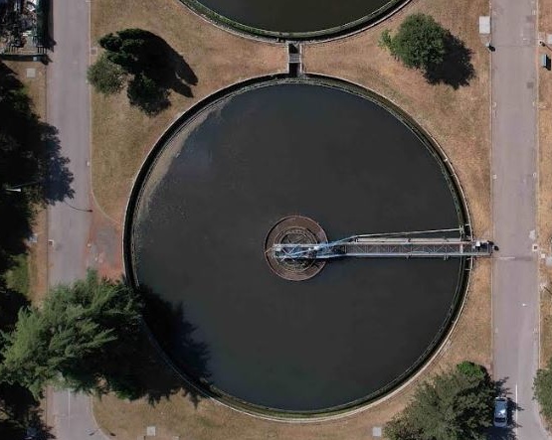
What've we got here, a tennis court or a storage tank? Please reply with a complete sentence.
The one in the frame is a storage tank.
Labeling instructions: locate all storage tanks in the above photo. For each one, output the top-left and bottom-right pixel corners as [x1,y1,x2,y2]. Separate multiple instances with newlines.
[182,0,411,43]
[122,70,473,421]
